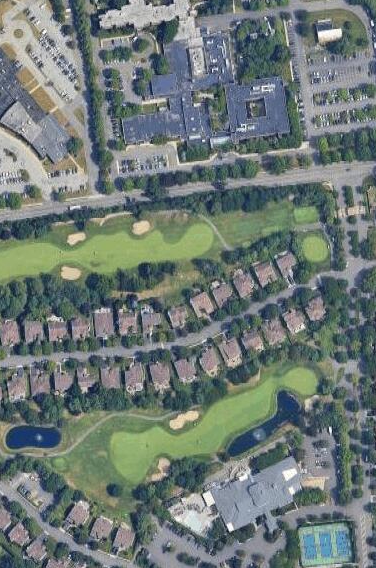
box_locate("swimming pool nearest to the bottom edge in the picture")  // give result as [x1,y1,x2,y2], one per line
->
[187,508,208,533]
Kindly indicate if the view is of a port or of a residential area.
residential area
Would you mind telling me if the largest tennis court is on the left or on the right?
right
